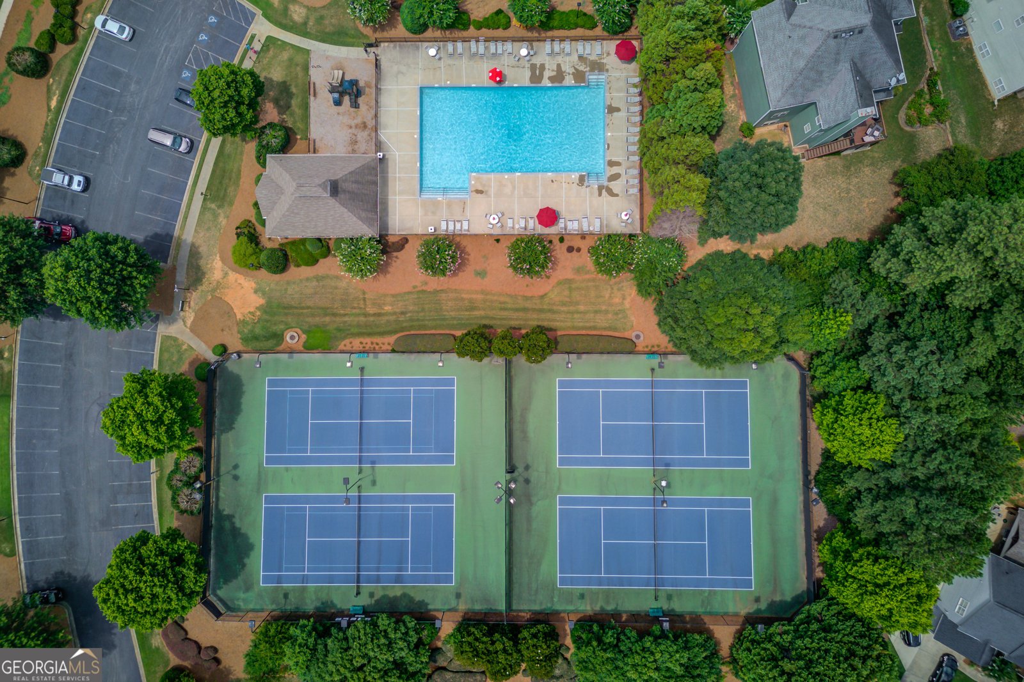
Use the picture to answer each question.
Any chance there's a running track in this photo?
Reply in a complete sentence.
No, no running track is visible in the scene.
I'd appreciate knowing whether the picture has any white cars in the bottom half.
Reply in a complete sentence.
No, I see no white car in the bottom half.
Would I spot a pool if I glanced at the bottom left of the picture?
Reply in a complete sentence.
No, the scene shows no pool at the bottom left of the picture.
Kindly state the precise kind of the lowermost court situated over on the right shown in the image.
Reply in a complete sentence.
The lowermost court situated over on the right appears to be a tennis court.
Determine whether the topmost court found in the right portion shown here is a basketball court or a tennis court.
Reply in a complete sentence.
From above, the topmost court found in the right portion can be identified as a tennis court.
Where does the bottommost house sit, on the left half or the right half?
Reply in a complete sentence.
It is on the right.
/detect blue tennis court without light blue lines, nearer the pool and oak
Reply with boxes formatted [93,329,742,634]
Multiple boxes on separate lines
[557,379,750,469]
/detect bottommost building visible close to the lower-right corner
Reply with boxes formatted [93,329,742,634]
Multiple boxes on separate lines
[923,552,1024,678]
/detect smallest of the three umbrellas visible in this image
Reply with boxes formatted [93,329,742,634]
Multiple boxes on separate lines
[489,69,502,85]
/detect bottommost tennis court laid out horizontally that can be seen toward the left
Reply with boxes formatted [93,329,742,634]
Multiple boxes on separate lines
[261,494,455,585]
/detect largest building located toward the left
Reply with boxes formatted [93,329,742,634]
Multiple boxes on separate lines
[255,154,380,238]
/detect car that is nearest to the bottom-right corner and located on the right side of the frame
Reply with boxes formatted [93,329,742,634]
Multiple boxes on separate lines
[925,650,956,682]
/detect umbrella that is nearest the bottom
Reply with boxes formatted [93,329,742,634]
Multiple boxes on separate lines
[537,207,558,228]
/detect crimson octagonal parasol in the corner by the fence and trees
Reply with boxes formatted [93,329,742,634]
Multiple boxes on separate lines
[615,41,636,62]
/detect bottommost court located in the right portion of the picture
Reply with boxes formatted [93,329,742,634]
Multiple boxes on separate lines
[558,496,753,590]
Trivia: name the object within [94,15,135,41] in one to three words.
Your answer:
car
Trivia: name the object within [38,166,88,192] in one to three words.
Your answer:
truck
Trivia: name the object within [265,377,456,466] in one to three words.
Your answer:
tennis court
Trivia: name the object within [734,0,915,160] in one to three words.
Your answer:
building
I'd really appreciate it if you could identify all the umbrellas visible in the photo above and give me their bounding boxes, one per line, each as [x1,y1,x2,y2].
[615,41,636,62]
[489,69,502,85]
[537,207,558,228]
